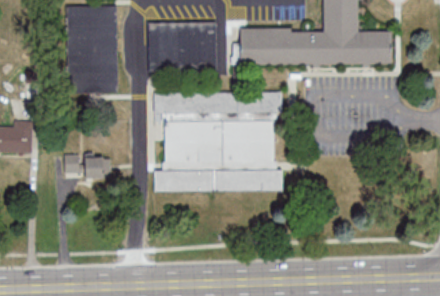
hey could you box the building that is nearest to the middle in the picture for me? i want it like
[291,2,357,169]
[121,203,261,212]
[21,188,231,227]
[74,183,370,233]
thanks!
[154,93,284,193]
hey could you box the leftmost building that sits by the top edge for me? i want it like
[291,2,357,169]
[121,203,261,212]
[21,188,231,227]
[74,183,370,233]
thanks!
[68,6,117,94]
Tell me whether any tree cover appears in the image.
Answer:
Yes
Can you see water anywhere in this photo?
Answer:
No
